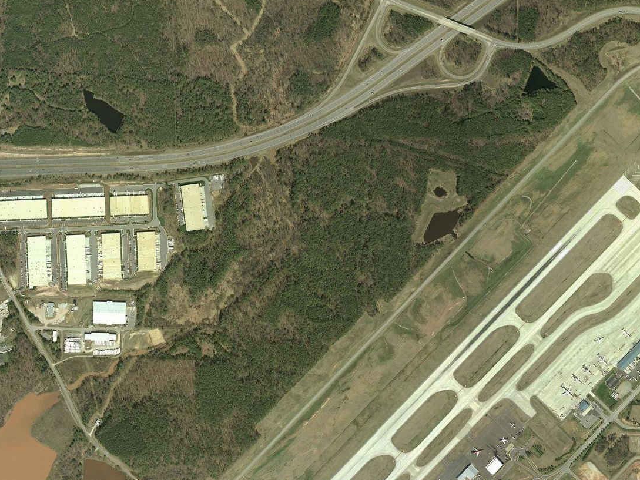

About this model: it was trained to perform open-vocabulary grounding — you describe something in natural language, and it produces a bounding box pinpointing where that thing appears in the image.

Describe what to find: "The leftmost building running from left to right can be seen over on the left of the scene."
[0,199,47,220]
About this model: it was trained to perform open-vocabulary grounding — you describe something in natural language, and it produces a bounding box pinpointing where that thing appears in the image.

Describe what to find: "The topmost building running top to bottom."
[181,183,205,231]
